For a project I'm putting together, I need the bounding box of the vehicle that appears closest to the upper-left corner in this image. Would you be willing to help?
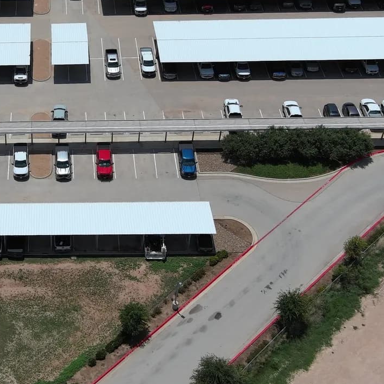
[13,65,28,83]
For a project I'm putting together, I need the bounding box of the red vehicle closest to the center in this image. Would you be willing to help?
[95,147,113,180]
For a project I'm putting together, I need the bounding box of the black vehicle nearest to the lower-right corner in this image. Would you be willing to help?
[195,233,214,250]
